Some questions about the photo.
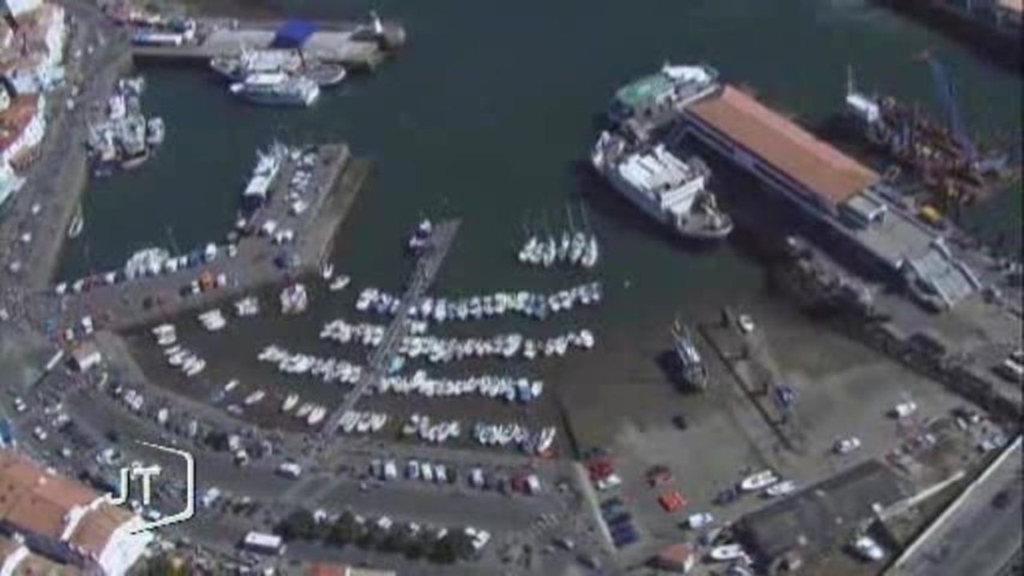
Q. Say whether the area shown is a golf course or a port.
port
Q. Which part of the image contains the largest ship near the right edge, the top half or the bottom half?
top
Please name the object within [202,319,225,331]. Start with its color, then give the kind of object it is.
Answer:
white boat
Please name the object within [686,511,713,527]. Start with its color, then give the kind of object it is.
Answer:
white vehicle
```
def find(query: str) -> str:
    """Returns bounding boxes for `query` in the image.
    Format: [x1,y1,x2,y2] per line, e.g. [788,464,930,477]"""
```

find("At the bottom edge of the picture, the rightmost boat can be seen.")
[850,533,886,557]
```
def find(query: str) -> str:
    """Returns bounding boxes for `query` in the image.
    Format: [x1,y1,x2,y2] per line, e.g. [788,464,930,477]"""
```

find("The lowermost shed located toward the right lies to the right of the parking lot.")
[657,542,695,576]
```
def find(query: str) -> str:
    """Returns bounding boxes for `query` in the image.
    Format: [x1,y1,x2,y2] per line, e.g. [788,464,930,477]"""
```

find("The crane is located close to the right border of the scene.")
[921,52,985,173]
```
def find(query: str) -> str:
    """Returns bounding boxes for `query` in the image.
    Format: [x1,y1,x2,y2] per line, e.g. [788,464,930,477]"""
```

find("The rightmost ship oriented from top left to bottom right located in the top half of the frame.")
[845,65,1008,206]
